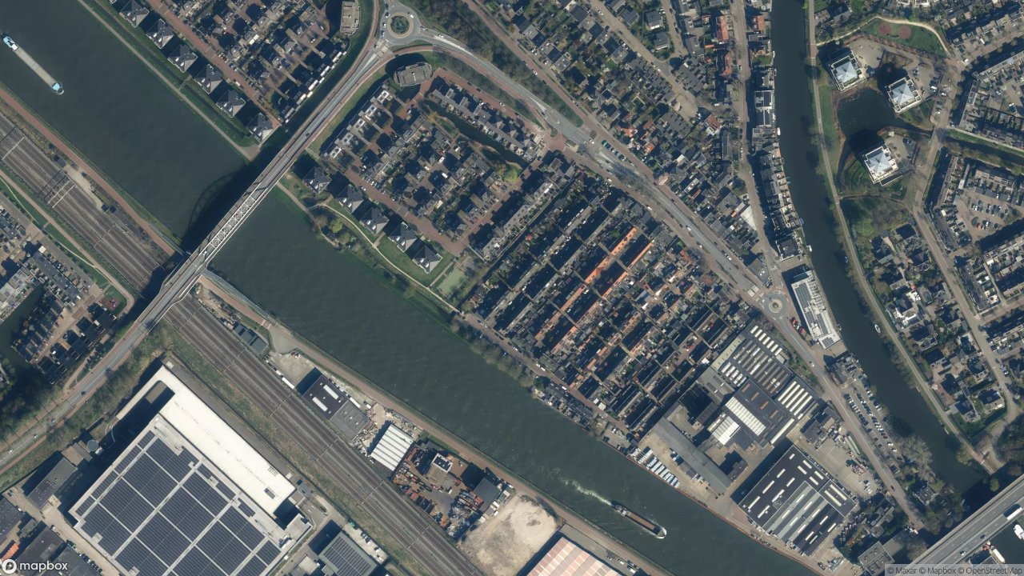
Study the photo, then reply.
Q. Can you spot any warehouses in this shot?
Yes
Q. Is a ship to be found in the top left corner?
Yes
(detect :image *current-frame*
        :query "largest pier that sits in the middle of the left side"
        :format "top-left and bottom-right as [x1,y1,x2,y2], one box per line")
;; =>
[209,270,273,319]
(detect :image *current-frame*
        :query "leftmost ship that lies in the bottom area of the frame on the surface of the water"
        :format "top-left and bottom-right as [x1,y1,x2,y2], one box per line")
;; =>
[611,501,666,538]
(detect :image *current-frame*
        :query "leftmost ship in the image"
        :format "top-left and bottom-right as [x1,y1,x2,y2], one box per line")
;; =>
[0,33,62,93]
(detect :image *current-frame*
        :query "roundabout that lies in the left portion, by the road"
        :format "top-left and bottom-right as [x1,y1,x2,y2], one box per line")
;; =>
[381,6,418,44]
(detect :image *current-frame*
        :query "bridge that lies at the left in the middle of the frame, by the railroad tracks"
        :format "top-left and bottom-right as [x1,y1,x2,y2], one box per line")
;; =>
[128,144,306,345]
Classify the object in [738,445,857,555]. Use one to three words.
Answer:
warehouse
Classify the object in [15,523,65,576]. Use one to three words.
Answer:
building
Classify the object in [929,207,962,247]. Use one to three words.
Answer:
house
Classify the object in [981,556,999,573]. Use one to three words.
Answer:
boat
